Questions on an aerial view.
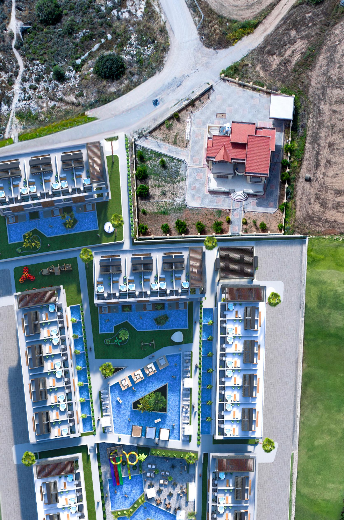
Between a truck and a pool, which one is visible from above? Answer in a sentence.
There is a pool in the scene.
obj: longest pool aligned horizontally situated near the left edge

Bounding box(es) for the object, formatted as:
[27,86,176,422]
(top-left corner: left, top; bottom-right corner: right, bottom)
[5,203,99,244]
